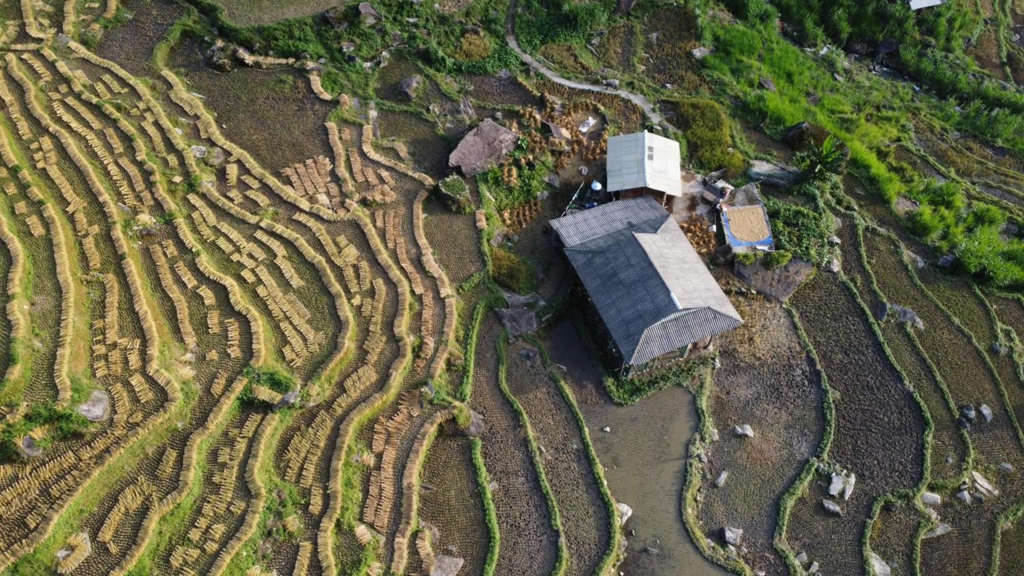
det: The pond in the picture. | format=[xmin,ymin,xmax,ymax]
[548,322,734,576]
